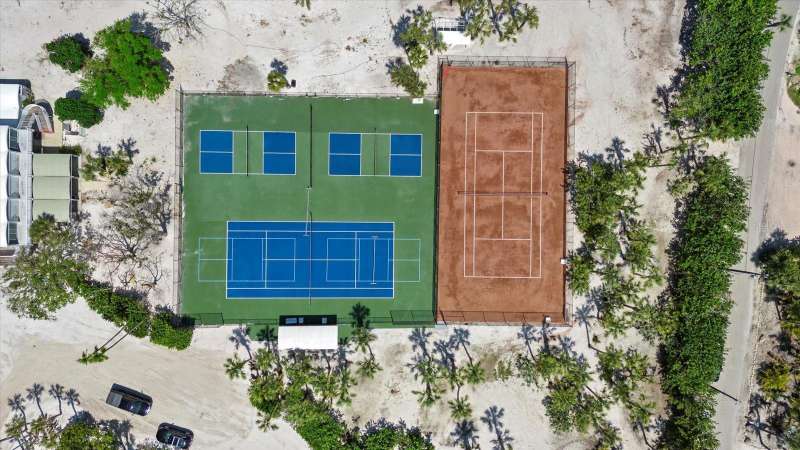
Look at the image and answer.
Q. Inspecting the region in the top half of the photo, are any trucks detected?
No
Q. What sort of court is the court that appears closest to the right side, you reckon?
tennis court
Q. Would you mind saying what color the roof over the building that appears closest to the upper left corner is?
white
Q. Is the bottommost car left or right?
left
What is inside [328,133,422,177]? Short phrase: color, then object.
blue sports court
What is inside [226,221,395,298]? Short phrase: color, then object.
blue tennis court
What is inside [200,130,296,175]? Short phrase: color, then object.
blue sports court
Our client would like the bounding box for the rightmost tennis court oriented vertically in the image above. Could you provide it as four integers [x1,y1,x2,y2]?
[439,66,567,323]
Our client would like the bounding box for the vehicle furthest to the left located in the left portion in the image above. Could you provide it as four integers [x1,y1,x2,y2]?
[102,388,148,414]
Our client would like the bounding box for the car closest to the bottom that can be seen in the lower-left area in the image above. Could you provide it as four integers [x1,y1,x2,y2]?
[155,424,192,446]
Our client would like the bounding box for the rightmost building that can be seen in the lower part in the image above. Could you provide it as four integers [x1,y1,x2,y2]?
[278,323,339,350]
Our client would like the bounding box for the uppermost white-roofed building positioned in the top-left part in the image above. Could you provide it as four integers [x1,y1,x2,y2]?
[0,84,43,122]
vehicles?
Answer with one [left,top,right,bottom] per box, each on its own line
[102,388,148,414]
[155,424,192,446]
